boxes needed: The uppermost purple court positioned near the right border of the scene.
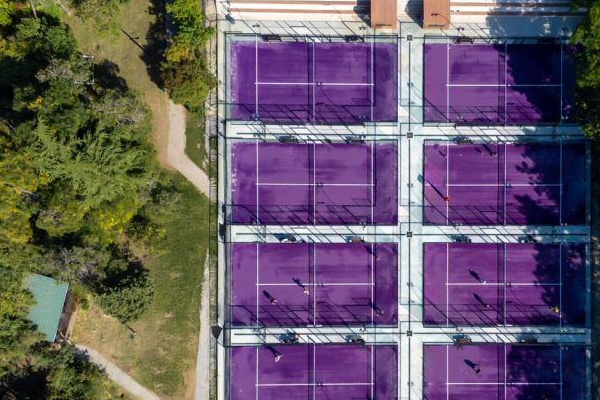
[422,34,587,126]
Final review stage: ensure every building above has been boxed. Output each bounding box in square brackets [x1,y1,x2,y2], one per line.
[370,0,398,31]
[423,0,451,31]
[14,272,77,342]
